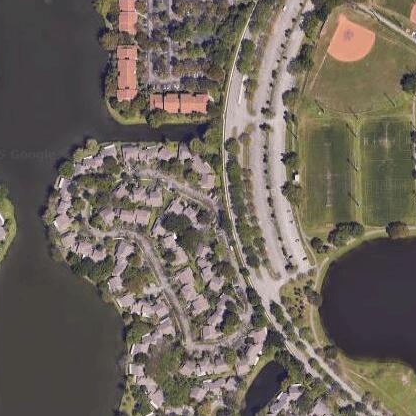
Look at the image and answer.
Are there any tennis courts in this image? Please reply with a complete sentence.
No, I find no tennis court anywhere in the image.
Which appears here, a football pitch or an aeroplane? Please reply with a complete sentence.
There is a football pitch in the scene.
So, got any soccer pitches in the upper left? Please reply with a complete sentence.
No, I can find no soccer pitch in the upper left.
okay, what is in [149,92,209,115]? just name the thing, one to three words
building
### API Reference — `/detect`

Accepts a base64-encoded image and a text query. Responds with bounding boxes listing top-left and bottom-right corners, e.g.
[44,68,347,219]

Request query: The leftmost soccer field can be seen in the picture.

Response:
[306,120,352,228]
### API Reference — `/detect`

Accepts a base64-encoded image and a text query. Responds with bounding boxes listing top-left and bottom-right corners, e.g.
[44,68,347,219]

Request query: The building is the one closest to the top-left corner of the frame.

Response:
[118,0,139,33]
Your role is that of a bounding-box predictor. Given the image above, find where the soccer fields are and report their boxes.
[360,119,416,227]
[306,120,352,228]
